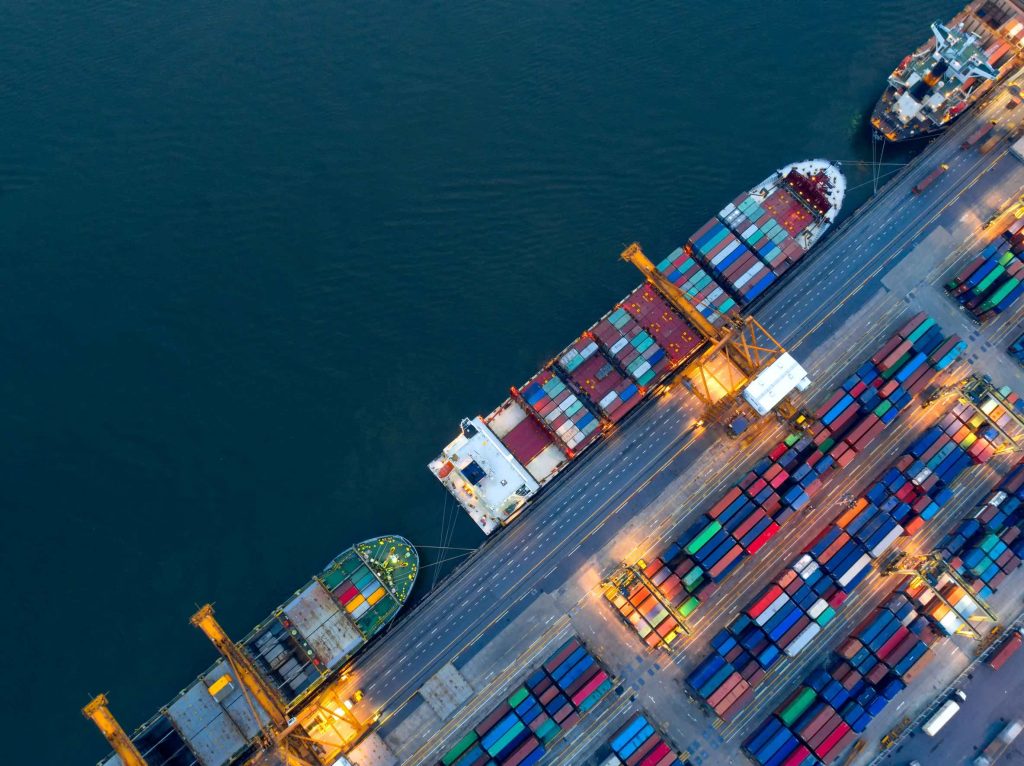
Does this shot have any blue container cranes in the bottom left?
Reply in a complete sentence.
No, there is no blue container crane in the bottom left.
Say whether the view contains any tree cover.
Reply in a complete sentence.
No, the scene doesn't show any tree cover.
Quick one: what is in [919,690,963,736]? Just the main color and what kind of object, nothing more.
white truck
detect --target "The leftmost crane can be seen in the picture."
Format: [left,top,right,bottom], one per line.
[74,688,150,766]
